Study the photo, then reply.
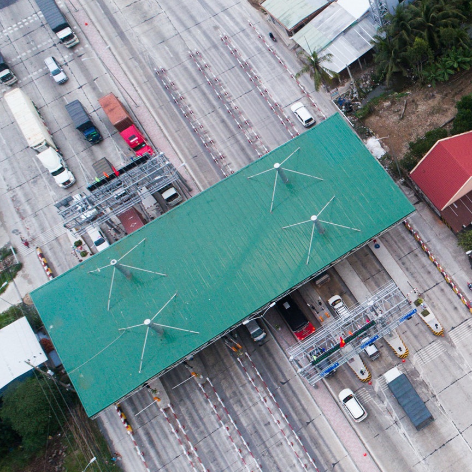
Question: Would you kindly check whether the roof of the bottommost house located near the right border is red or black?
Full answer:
The roof of the bottommost house located near the right border is red.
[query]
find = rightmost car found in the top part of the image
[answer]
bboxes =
[293,105,316,129]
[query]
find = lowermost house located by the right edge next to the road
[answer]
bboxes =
[409,130,472,224]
